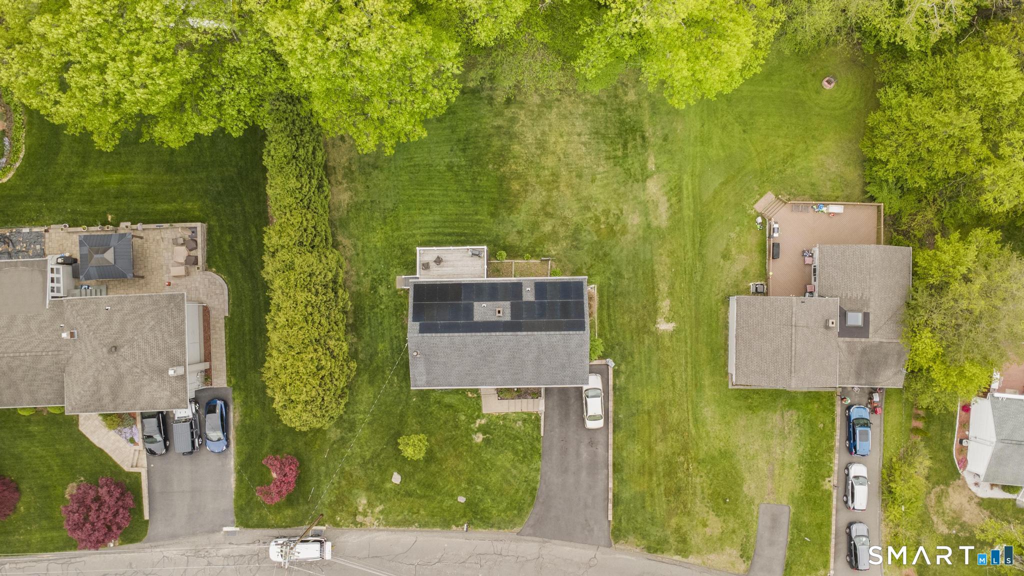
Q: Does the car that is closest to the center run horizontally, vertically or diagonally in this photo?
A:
vertically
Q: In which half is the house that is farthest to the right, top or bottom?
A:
bottom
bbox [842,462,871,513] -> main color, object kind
white car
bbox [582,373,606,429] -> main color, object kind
white car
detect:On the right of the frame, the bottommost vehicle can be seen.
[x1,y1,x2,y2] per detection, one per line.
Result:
[844,521,874,573]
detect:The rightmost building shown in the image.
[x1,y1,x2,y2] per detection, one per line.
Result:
[969,388,1024,500]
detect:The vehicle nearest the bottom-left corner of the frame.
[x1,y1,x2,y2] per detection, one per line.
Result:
[139,413,169,455]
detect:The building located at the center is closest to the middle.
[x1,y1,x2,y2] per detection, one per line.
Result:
[405,276,591,391]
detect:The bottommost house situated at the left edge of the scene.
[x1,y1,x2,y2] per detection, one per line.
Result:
[0,257,211,415]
